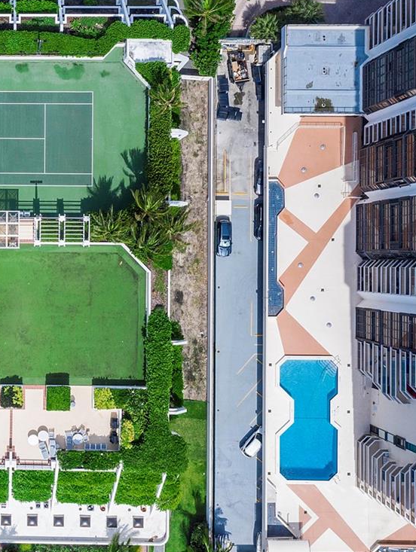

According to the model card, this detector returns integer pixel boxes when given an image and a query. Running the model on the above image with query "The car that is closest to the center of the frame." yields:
[214,218,233,255]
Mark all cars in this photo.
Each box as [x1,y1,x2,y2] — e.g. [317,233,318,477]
[255,526,264,552]
[214,218,233,255]
[252,201,264,240]
[252,159,264,194]
[236,425,264,455]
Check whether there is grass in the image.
Yes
